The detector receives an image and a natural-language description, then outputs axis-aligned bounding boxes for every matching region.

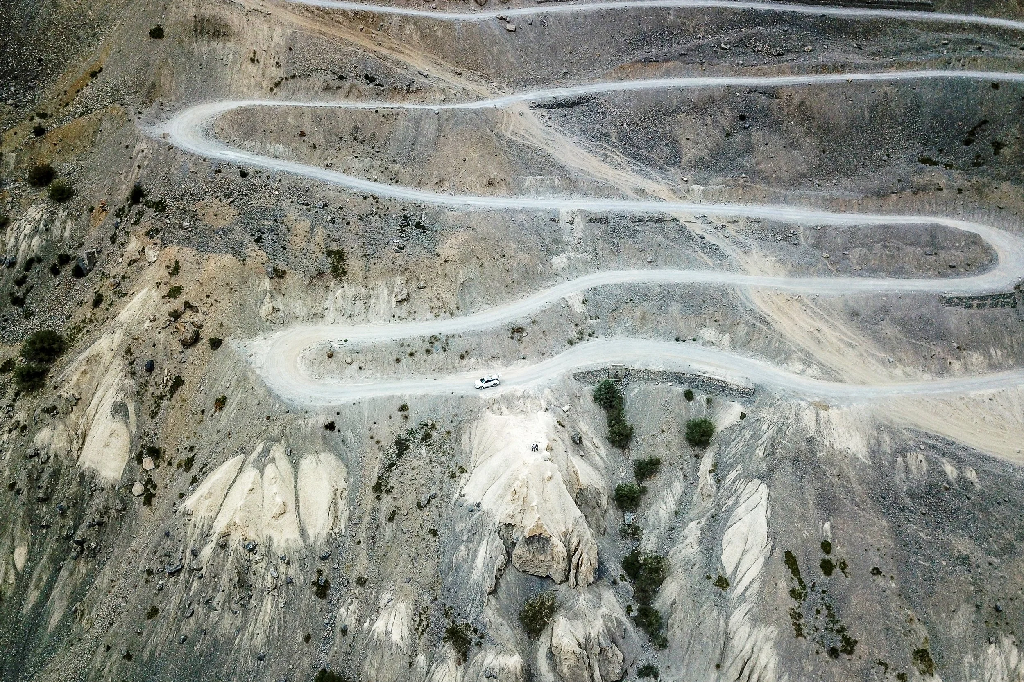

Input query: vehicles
[474,371,505,390]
